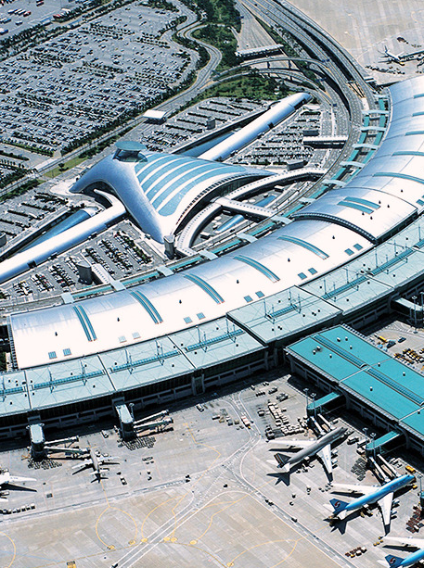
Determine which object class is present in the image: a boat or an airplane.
airplane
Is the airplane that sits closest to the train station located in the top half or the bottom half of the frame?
top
